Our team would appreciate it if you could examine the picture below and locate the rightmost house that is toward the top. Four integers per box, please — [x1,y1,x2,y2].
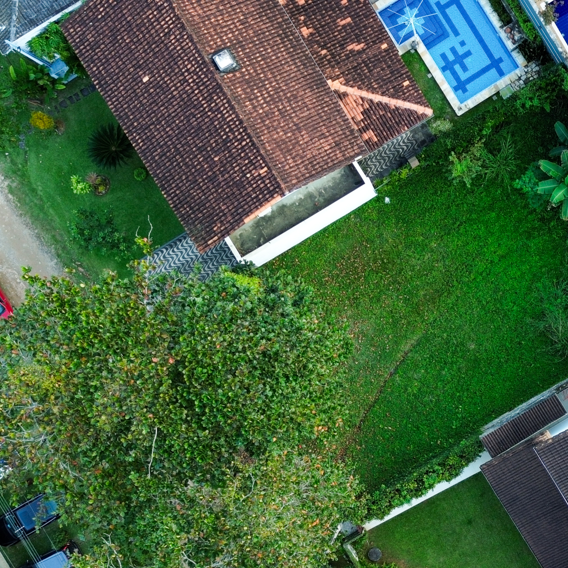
[57,0,434,262]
